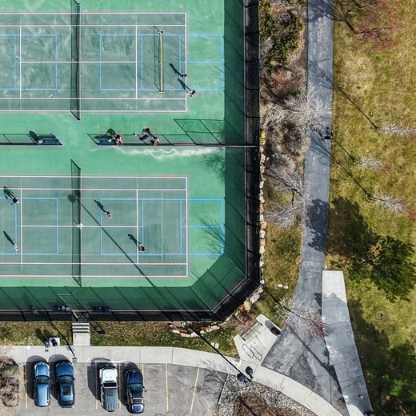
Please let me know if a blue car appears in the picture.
Yes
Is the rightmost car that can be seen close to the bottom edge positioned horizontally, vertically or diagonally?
vertically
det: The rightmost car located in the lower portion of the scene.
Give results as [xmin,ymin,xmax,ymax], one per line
[123,369,145,415]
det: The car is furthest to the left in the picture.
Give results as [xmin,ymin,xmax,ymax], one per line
[34,365,53,409]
